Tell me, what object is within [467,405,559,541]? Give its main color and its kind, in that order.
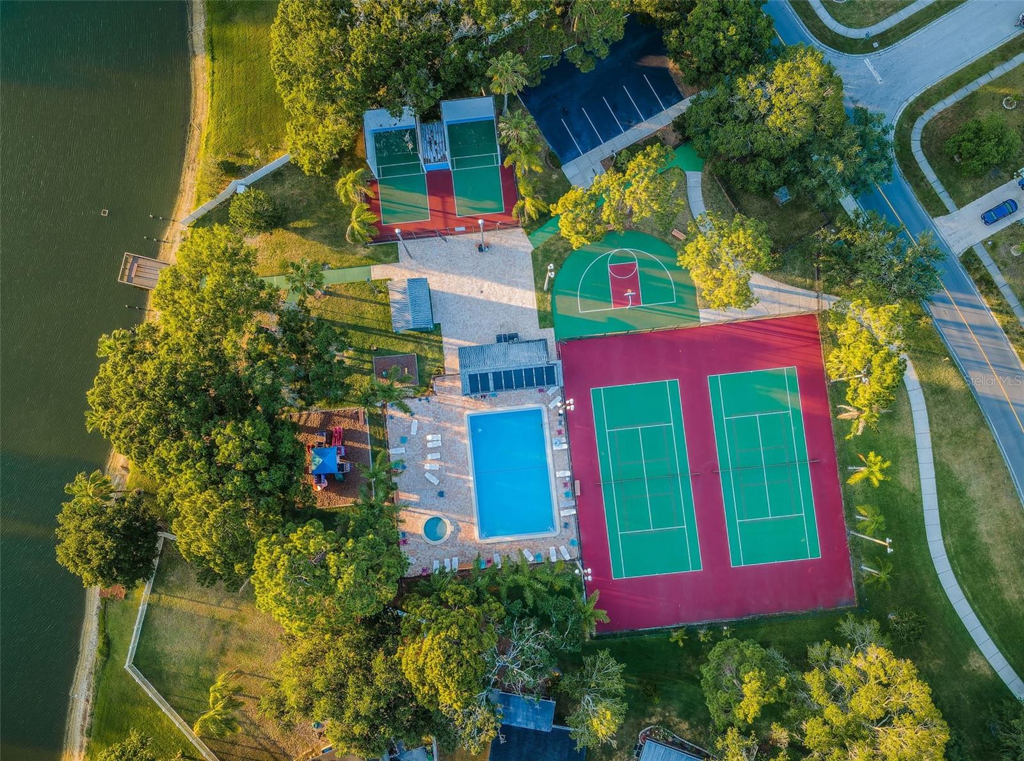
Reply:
blue swimming pool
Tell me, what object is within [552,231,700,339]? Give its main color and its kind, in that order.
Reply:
green basketball court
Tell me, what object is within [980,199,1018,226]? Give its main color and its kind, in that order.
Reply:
blue car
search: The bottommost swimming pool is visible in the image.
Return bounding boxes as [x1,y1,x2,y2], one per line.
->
[421,514,455,545]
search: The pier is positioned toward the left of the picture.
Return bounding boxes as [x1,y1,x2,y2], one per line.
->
[117,254,171,294]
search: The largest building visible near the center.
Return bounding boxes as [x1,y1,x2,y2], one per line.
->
[458,339,564,396]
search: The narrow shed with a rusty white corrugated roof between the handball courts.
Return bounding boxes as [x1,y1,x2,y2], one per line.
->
[419,117,451,171]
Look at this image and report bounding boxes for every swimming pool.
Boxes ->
[467,405,559,541]
[421,514,455,545]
